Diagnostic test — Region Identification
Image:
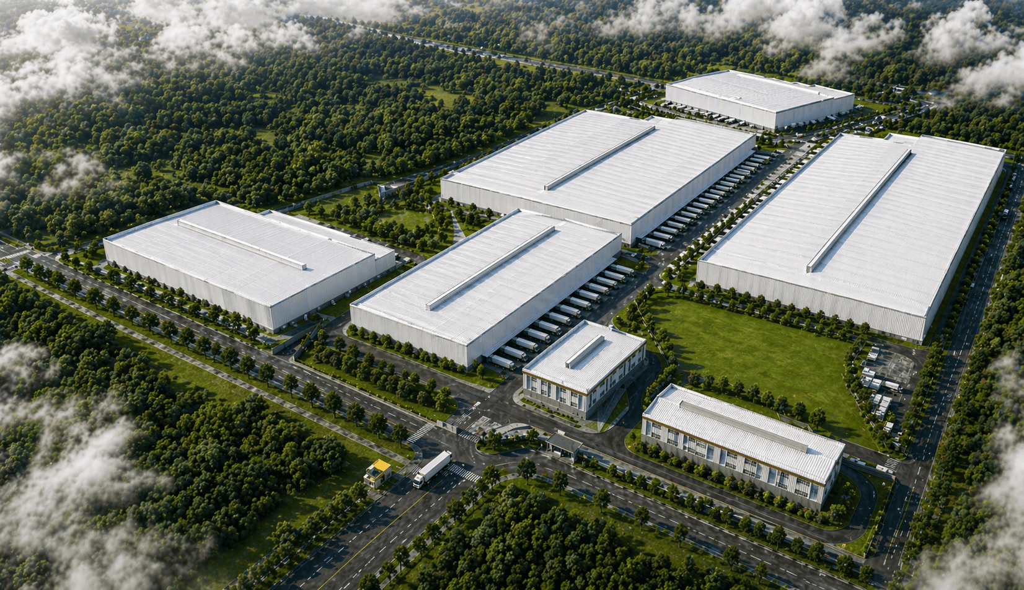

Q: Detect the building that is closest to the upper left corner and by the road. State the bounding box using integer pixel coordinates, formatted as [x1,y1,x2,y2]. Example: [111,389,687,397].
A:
[101,201,399,333]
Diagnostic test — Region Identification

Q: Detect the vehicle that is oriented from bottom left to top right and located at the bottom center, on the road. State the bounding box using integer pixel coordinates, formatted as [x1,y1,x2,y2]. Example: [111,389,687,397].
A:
[412,451,454,488]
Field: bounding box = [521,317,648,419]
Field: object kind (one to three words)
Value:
building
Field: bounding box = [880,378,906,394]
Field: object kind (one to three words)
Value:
vehicle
